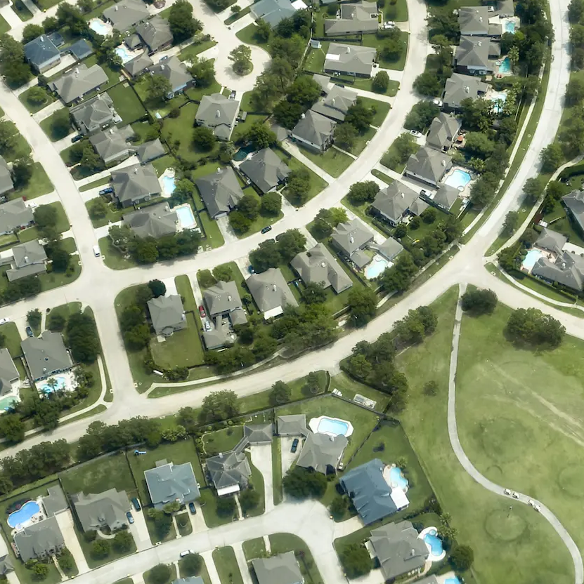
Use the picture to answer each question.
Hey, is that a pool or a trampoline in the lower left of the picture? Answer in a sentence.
Visible in the lower left of the picture is a pool.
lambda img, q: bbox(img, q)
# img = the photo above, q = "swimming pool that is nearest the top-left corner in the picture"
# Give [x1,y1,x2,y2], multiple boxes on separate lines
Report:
[91,18,114,37]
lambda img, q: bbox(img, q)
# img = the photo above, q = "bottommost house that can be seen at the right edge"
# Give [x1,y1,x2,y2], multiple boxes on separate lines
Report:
[535,250,584,289]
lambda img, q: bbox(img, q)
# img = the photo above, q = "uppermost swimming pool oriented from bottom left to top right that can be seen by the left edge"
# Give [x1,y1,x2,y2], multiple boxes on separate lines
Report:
[0,381,21,413]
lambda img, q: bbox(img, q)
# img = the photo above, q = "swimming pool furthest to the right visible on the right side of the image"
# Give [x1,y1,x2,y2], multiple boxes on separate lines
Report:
[523,246,554,271]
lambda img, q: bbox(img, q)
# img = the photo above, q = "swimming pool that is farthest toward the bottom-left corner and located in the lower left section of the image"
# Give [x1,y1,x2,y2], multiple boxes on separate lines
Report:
[5,497,47,532]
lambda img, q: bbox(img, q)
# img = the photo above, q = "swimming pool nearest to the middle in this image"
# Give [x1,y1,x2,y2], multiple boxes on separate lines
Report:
[364,255,392,280]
